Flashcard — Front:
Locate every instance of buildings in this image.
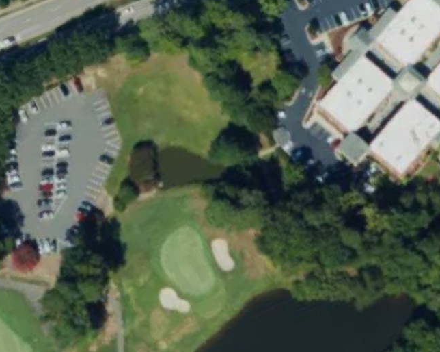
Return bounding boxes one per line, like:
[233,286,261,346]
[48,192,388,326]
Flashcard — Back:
[319,0,440,177]
[273,127,290,147]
